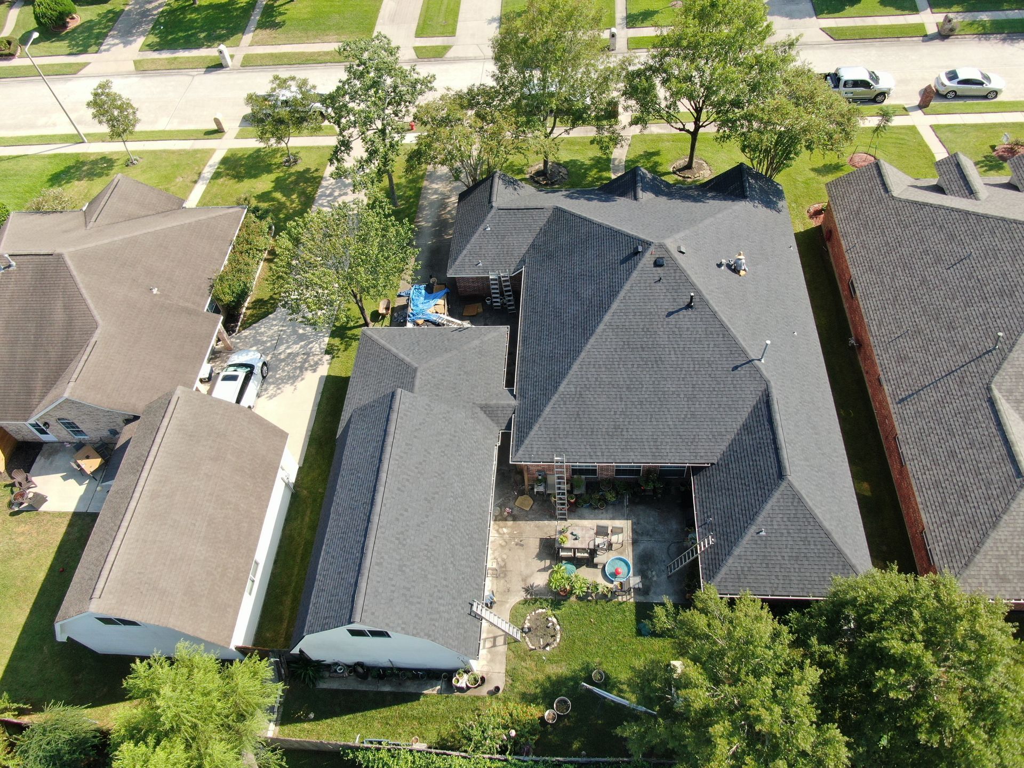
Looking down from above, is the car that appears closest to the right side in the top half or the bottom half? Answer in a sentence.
It is in the top half that the car that appears closest to the right side appears.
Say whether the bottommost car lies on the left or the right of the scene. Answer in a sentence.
It is on the left.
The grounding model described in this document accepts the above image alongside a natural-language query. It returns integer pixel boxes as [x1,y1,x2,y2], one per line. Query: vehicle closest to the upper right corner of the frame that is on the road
[930,71,1007,102]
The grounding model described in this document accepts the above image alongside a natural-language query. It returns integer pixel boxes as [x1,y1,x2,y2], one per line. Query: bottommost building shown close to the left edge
[50,386,300,660]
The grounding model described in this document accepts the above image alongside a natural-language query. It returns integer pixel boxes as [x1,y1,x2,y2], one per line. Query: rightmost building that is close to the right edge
[820,151,1024,606]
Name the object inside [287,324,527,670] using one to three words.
building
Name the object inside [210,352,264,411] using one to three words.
car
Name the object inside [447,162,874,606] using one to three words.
house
